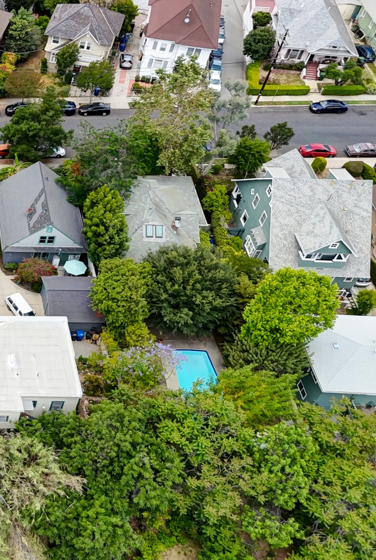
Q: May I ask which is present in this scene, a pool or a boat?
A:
pool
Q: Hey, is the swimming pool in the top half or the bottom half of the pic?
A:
bottom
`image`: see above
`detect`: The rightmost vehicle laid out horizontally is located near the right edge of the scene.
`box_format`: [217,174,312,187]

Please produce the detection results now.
[343,144,376,158]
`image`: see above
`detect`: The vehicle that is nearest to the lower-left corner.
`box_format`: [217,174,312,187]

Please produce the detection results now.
[4,290,36,313]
